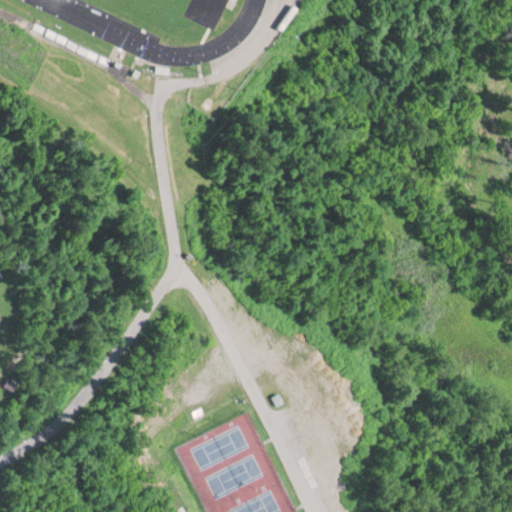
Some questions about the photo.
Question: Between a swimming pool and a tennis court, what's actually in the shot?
tennis court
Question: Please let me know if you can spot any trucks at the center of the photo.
No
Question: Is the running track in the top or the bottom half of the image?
top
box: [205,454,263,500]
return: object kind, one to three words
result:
tennis court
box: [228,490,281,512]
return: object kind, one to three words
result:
tennis court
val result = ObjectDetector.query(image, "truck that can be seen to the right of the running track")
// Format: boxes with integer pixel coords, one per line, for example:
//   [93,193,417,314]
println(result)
[278,2,302,32]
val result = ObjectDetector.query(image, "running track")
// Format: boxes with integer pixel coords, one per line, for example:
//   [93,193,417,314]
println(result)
[26,0,265,66]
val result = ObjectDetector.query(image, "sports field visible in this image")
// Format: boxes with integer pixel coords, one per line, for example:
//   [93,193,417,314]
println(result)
[86,0,245,46]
